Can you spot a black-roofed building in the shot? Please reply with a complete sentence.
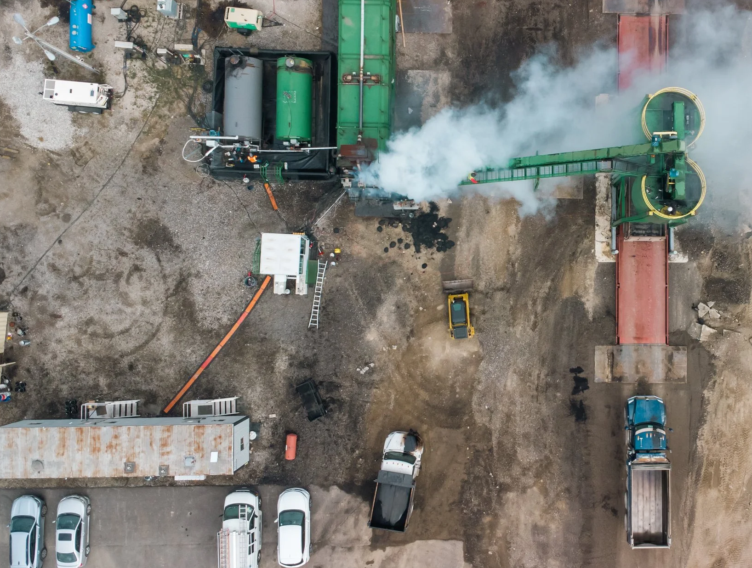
No, no black-roofed building is visible in the scene.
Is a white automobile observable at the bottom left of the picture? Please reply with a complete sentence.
Yes, you'll find a white automobile at the bottom left of the picture.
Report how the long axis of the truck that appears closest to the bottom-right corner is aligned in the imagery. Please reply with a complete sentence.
I'd say the truck that appears closest to the bottom-right corner is aligned from top to bottom in the picture.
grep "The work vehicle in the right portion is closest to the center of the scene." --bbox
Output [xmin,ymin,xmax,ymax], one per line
[442,277,477,342]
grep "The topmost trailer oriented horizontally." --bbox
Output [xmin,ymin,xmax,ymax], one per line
[226,8,288,35]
